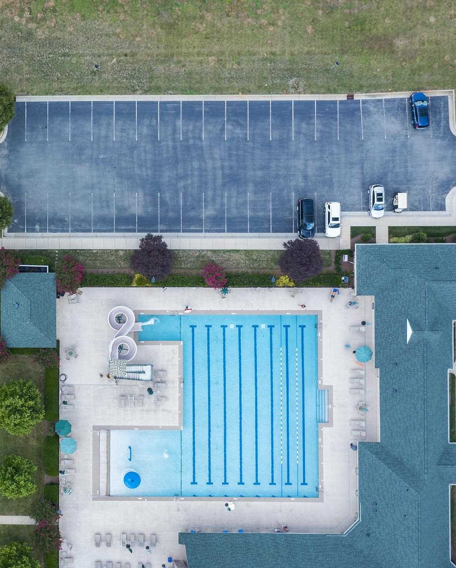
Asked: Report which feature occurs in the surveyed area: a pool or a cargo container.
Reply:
pool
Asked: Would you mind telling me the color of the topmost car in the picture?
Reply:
blue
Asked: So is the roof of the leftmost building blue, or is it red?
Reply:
blue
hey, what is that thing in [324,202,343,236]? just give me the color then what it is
white car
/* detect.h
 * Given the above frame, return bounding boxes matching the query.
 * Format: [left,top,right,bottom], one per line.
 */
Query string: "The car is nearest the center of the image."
[297,199,318,237]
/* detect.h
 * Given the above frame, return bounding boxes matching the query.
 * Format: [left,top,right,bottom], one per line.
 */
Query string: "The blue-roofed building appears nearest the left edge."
[0,272,57,349]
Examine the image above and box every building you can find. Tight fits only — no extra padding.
[0,272,57,349]
[171,243,456,568]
